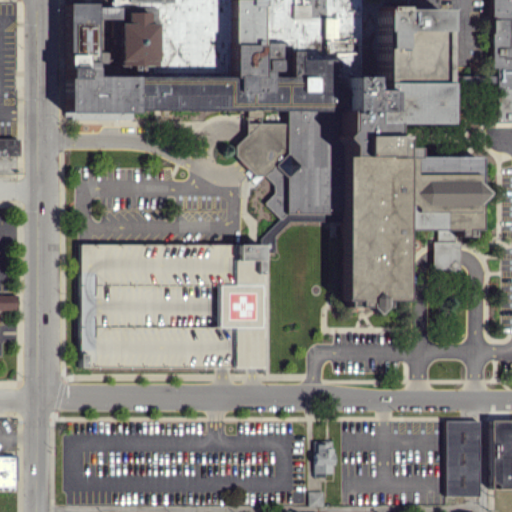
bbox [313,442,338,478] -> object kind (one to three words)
house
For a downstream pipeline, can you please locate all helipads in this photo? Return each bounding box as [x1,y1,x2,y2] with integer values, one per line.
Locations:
[218,284,266,330]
